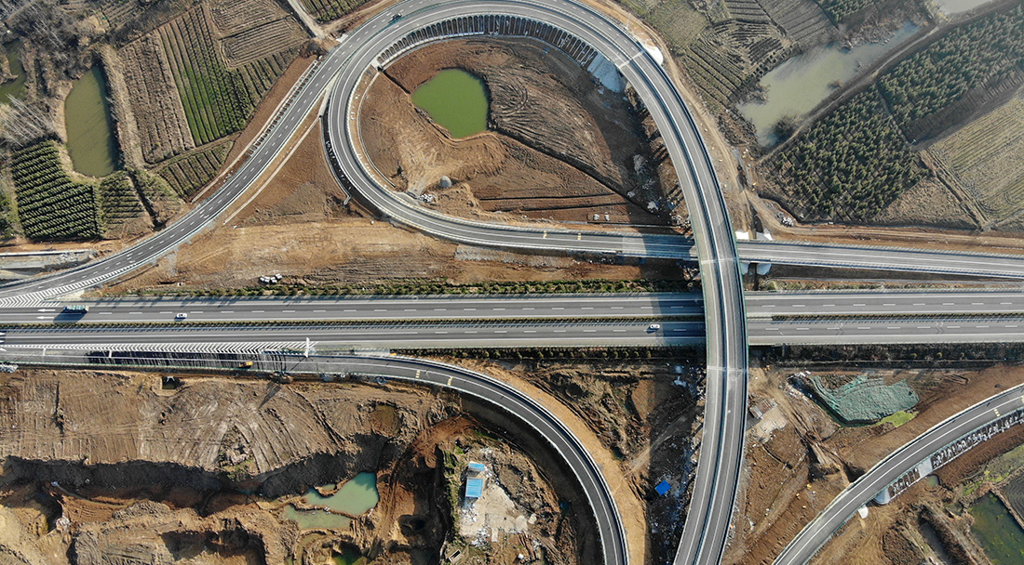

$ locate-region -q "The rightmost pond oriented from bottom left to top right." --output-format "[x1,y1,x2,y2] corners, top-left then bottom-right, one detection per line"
[738,23,920,148]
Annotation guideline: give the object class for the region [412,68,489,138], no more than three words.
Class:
pond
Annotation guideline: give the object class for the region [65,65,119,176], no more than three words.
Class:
pond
